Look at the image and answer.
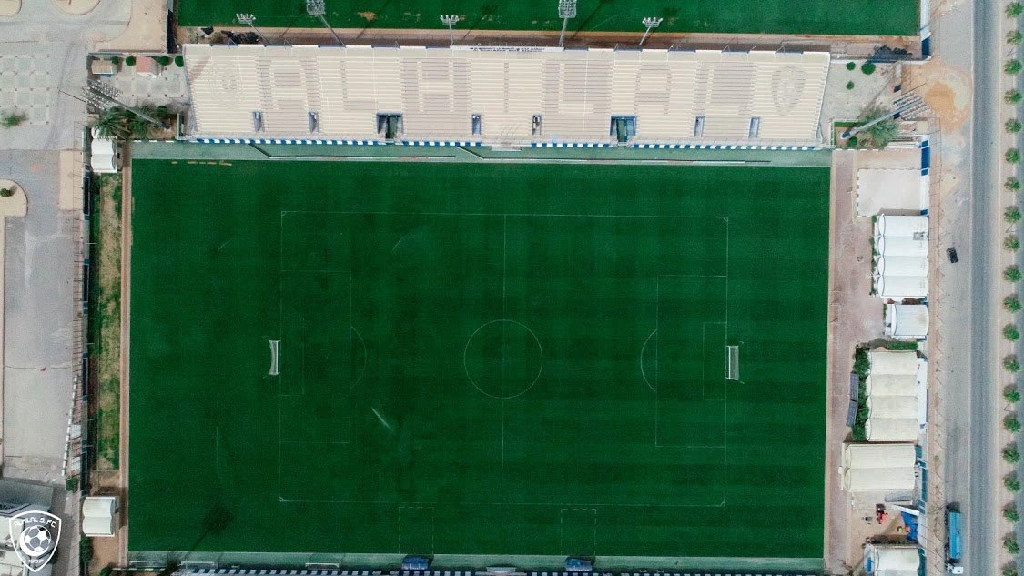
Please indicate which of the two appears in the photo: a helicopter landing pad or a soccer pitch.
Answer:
soccer pitch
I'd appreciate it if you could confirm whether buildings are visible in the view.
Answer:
Yes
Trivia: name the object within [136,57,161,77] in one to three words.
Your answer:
building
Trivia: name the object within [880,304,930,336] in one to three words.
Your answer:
tent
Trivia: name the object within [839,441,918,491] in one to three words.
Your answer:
tent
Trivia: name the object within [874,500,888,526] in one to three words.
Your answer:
work vehicle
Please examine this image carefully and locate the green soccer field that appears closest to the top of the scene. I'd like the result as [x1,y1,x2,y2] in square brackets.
[179,0,920,35]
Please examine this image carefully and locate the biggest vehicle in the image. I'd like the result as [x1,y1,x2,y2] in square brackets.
[943,502,964,575]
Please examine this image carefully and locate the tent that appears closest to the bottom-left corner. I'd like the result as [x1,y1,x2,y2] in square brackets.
[81,495,124,537]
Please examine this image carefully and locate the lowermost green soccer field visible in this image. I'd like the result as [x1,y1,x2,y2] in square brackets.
[128,161,831,558]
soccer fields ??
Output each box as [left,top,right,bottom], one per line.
[128,161,831,558]
[179,0,920,35]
